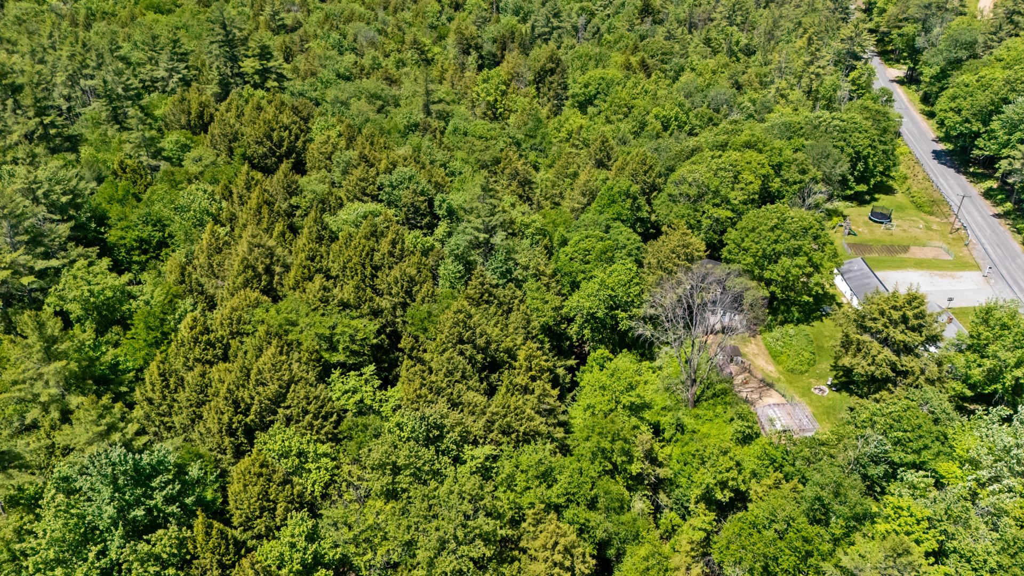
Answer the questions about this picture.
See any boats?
No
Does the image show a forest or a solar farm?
forest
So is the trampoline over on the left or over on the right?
right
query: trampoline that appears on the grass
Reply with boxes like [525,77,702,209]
[871,201,894,222]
